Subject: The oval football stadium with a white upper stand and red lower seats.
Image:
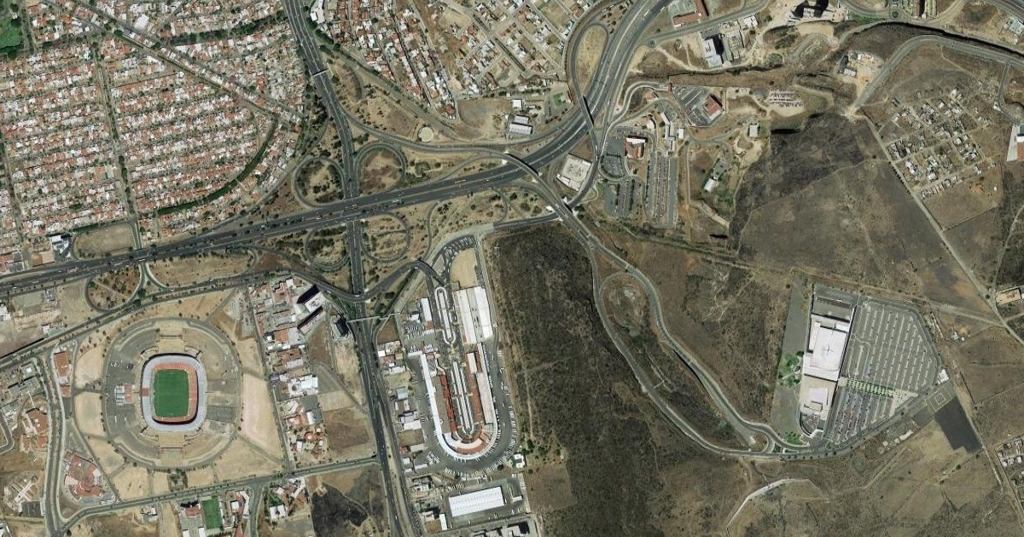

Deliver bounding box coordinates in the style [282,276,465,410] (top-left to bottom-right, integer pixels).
[133,352,220,449]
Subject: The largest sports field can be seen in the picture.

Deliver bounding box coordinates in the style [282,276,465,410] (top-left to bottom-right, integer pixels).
[154,369,189,418]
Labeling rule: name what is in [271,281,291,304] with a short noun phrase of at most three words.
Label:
house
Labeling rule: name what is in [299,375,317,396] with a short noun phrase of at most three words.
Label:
house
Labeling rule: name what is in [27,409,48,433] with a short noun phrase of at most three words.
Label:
building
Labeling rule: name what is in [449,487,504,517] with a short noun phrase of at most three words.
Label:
building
